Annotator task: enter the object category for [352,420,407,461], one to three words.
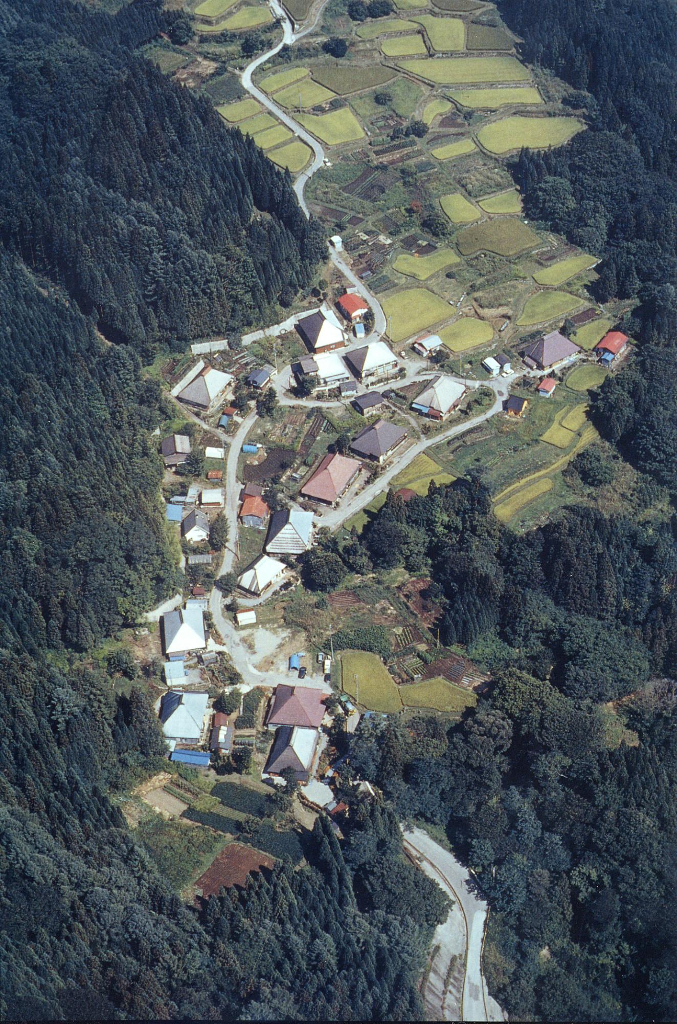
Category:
house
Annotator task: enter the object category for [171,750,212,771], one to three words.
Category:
shed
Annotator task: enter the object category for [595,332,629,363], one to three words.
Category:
barn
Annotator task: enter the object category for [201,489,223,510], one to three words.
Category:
building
